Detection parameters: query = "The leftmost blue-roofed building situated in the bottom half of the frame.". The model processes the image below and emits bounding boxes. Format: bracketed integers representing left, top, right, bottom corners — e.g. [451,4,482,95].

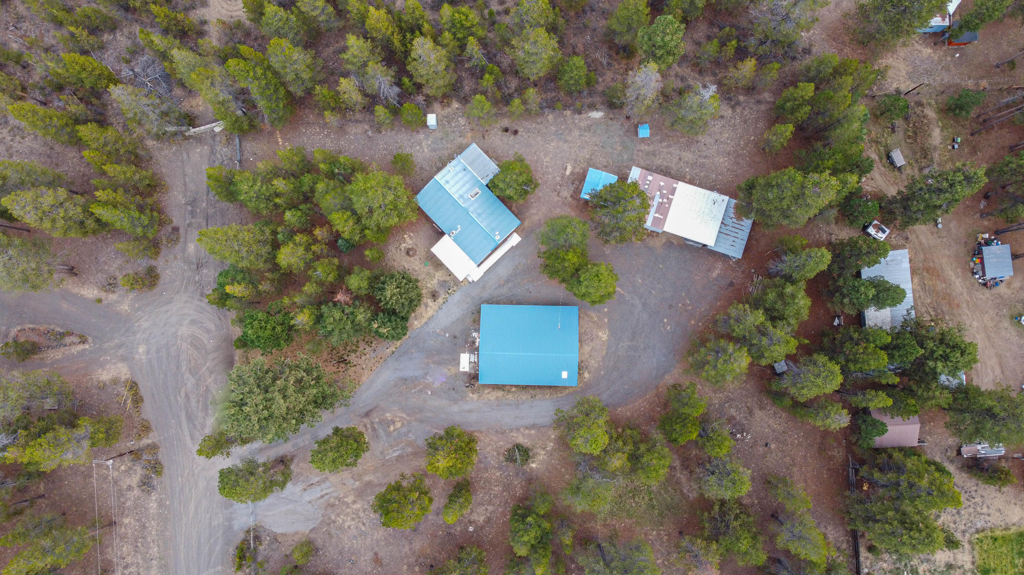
[475,304,579,387]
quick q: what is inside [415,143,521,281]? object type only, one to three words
house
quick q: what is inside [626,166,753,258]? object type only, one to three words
shed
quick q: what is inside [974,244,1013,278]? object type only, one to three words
shed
